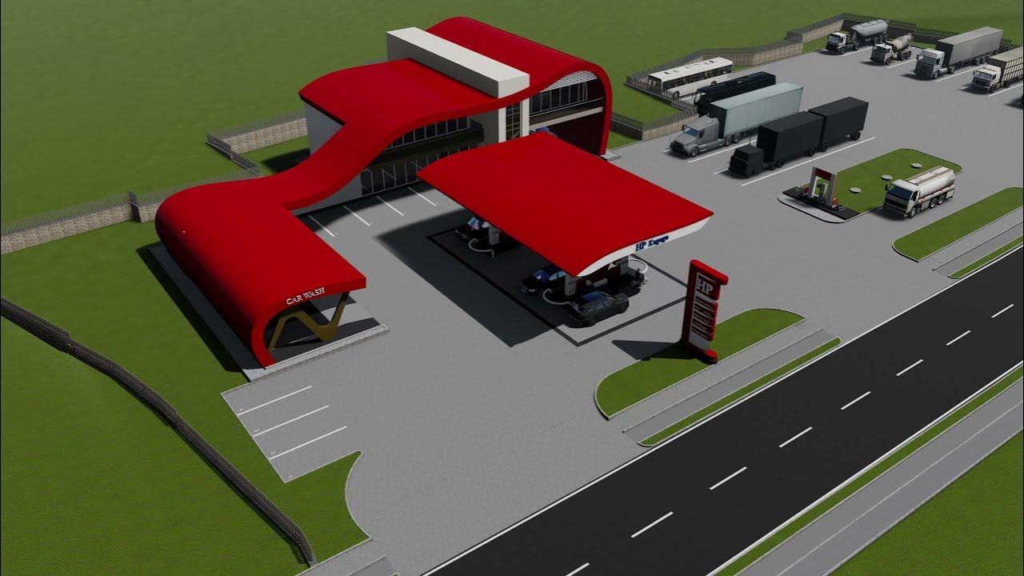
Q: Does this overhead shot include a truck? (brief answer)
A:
Yes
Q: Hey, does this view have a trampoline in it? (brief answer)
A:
No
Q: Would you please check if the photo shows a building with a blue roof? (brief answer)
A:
No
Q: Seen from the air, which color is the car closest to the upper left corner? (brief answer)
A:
black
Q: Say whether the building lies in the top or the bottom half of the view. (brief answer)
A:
top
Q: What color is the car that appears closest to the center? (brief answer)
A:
black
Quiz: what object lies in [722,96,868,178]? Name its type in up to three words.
truck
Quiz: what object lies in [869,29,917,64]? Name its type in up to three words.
truck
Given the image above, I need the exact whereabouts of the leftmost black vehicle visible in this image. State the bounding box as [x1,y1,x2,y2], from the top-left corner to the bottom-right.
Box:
[453,212,489,238]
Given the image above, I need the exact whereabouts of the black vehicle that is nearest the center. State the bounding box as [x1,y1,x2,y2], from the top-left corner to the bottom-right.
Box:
[519,262,565,295]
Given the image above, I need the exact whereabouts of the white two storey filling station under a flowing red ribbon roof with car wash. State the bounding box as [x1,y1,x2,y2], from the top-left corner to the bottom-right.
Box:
[153,17,623,382]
